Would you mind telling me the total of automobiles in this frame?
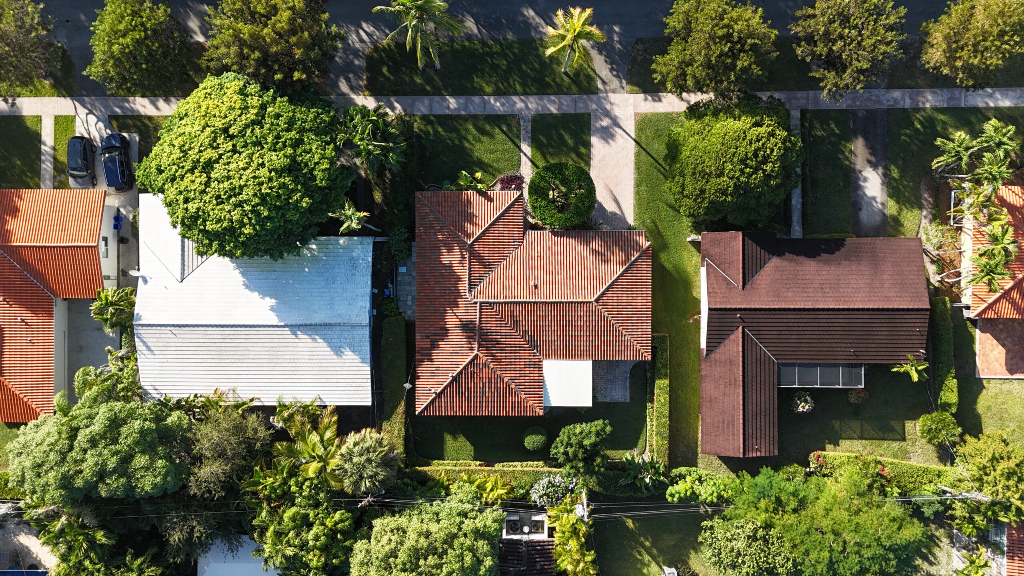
2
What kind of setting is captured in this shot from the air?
residential area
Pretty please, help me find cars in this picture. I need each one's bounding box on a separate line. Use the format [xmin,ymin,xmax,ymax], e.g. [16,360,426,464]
[65,135,96,188]
[98,133,133,191]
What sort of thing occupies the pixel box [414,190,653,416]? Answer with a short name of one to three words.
house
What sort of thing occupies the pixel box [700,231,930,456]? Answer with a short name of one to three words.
house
